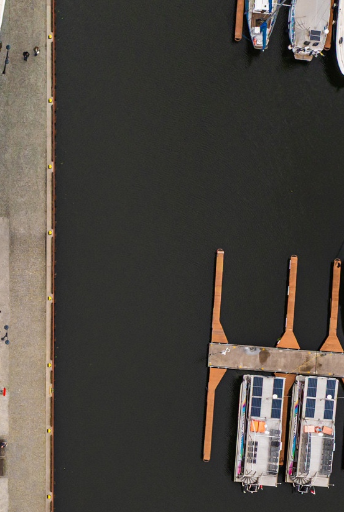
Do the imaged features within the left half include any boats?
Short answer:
No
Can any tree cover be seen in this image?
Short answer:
No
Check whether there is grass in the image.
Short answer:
No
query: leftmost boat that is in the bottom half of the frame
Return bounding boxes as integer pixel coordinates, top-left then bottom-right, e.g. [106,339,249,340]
[232,373,290,492]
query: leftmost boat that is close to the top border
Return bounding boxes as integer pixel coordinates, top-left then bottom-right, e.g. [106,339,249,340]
[244,0,290,51]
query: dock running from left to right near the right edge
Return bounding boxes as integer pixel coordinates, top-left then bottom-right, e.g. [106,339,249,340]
[206,343,344,378]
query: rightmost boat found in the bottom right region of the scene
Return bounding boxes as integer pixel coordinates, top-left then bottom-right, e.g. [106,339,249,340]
[285,374,344,493]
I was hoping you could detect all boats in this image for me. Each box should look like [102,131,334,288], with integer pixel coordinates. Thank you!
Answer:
[331,0,344,80]
[244,0,290,51]
[285,374,344,493]
[232,373,290,492]
[285,0,337,62]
